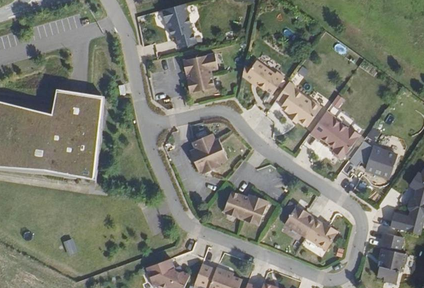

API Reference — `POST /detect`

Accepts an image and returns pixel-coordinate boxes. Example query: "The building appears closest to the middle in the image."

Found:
[190,133,226,177]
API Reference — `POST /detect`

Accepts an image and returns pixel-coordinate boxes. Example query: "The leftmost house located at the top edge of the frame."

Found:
[160,4,199,51]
